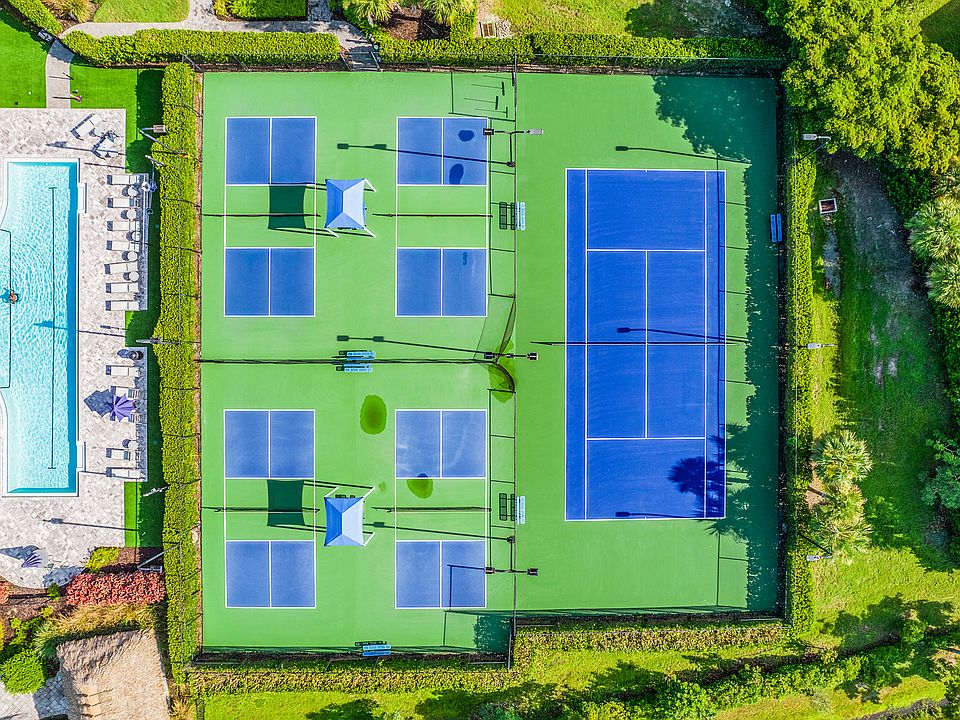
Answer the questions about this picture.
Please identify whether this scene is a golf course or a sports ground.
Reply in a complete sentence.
This looks like a sports ground.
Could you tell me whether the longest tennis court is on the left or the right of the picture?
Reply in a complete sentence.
You can find the longest tennis court on the right side of the picture.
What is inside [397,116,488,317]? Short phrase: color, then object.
blue sports court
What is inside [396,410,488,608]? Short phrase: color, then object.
blue sports court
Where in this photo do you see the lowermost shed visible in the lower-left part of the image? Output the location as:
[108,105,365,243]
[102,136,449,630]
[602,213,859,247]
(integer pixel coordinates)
[57,620,176,720]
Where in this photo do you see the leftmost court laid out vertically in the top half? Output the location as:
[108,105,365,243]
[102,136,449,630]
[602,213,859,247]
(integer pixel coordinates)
[225,116,317,317]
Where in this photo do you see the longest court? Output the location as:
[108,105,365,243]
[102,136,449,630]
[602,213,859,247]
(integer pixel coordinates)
[516,74,778,616]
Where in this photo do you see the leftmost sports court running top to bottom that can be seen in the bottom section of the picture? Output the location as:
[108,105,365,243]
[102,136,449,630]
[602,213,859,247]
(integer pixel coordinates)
[224,410,316,608]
